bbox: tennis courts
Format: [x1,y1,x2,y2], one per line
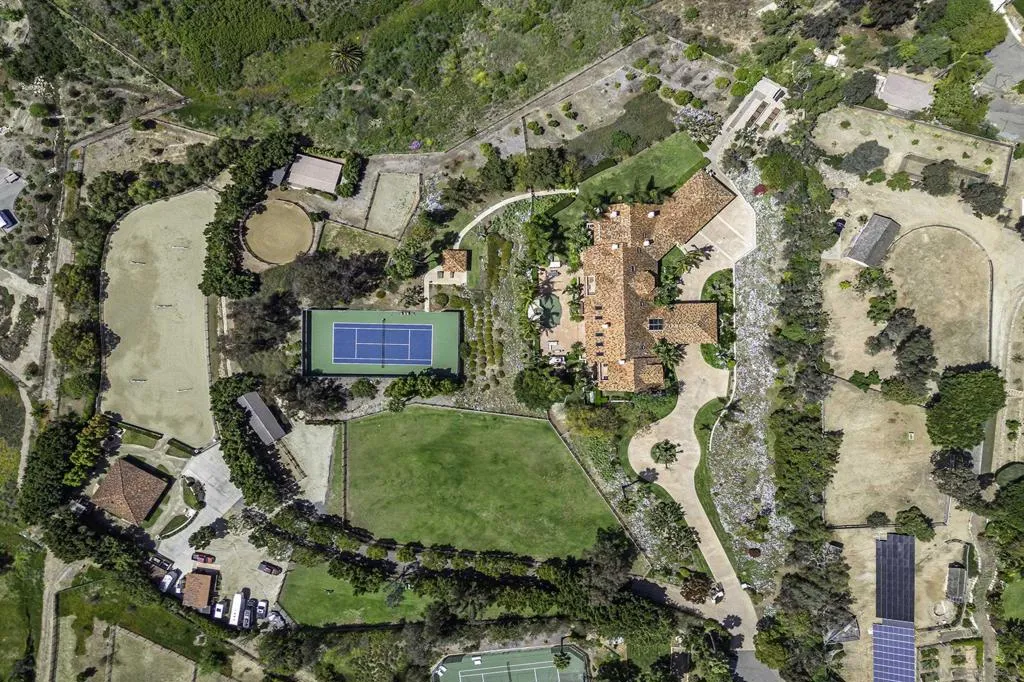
[431,642,593,682]
[303,310,461,377]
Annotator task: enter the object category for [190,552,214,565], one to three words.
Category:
vehicle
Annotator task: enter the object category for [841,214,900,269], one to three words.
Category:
barn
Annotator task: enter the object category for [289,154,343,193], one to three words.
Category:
building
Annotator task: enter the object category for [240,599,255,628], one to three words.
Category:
vehicle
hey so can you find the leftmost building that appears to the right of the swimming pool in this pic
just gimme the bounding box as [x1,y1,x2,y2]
[583,167,737,392]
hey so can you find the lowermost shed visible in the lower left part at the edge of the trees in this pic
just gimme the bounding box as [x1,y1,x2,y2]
[183,571,214,616]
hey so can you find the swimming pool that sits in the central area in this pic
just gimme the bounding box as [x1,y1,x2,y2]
[534,293,561,329]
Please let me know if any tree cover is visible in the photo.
Yes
